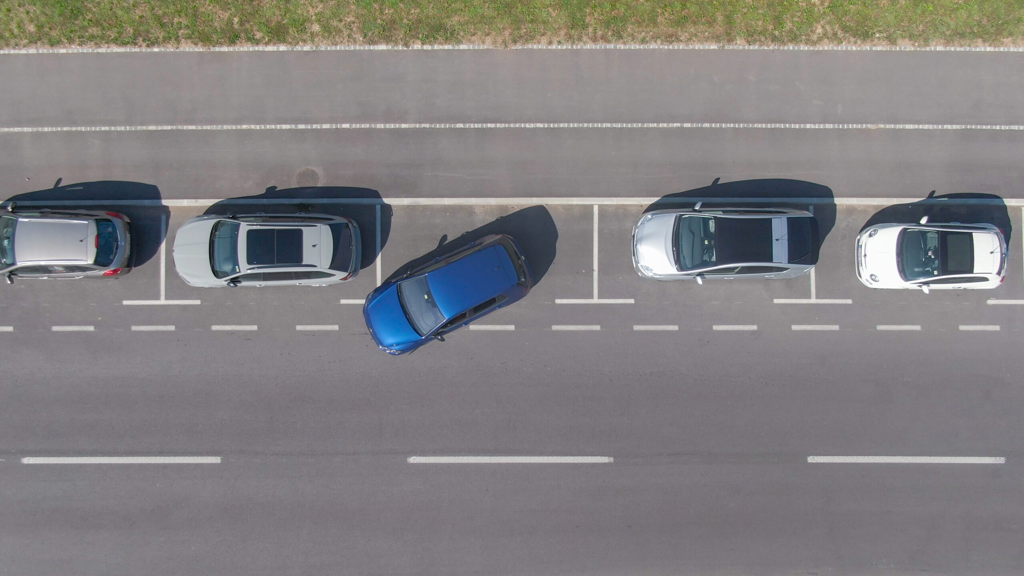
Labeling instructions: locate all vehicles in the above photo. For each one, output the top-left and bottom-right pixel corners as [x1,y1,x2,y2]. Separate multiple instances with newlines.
[172,210,363,289]
[362,230,533,355]
[631,201,820,285]
[854,216,1007,294]
[0,203,138,284]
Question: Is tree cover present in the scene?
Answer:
No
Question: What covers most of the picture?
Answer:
paved ground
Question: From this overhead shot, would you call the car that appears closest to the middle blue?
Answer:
Yes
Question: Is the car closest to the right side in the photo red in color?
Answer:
No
